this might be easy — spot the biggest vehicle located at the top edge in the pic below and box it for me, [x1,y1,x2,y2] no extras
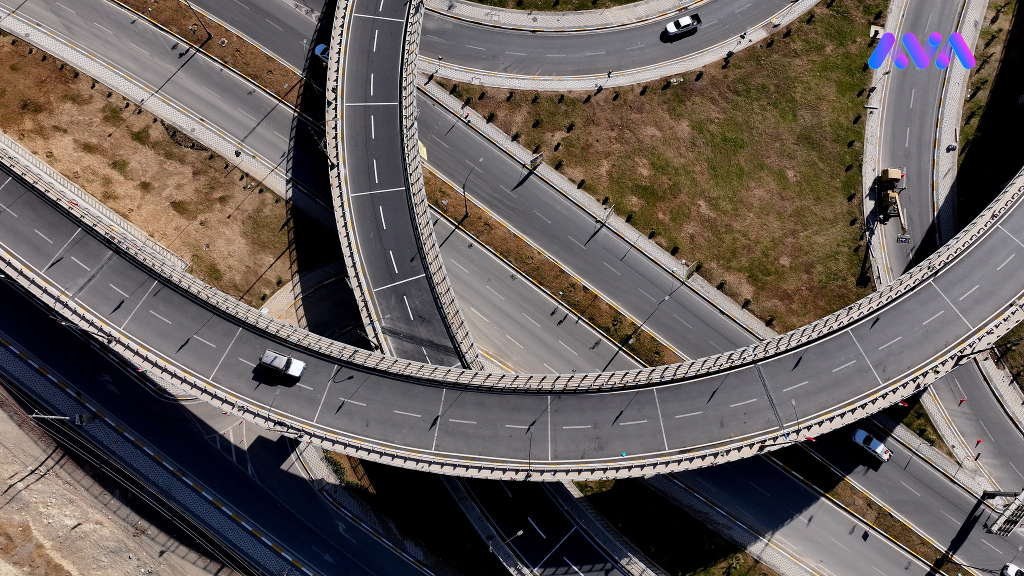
[661,14,702,38]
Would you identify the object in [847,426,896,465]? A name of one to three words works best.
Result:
truck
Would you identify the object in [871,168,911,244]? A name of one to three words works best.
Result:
truck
